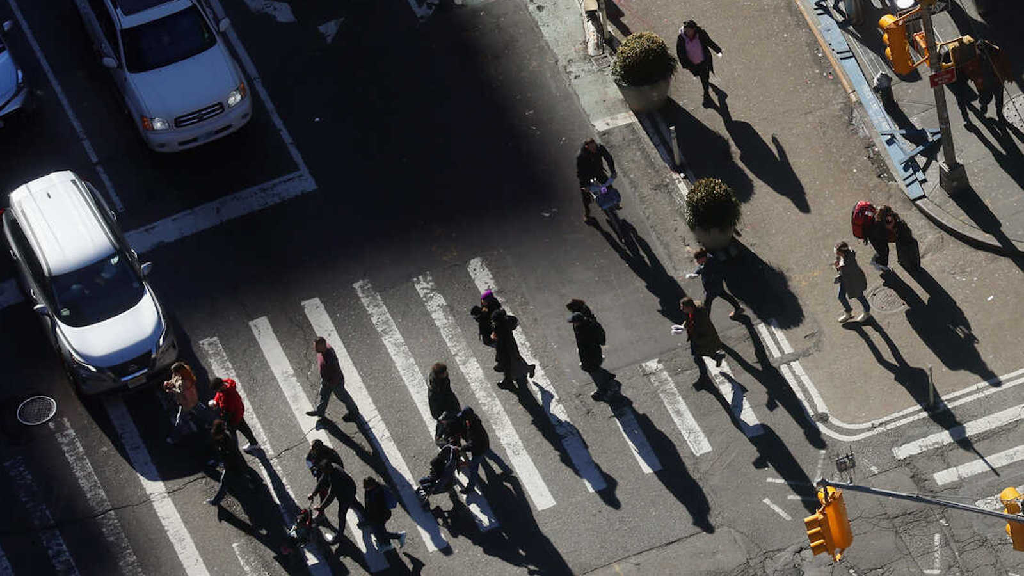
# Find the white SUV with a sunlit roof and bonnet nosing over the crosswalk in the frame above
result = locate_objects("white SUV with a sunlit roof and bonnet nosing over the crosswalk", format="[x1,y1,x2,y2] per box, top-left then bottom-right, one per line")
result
[0,177,176,402]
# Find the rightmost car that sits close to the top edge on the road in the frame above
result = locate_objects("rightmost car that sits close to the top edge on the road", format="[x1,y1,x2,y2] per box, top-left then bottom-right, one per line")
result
[62,0,245,164]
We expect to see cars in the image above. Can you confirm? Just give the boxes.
[62,0,245,164]
[0,29,34,133]
[0,177,176,402]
